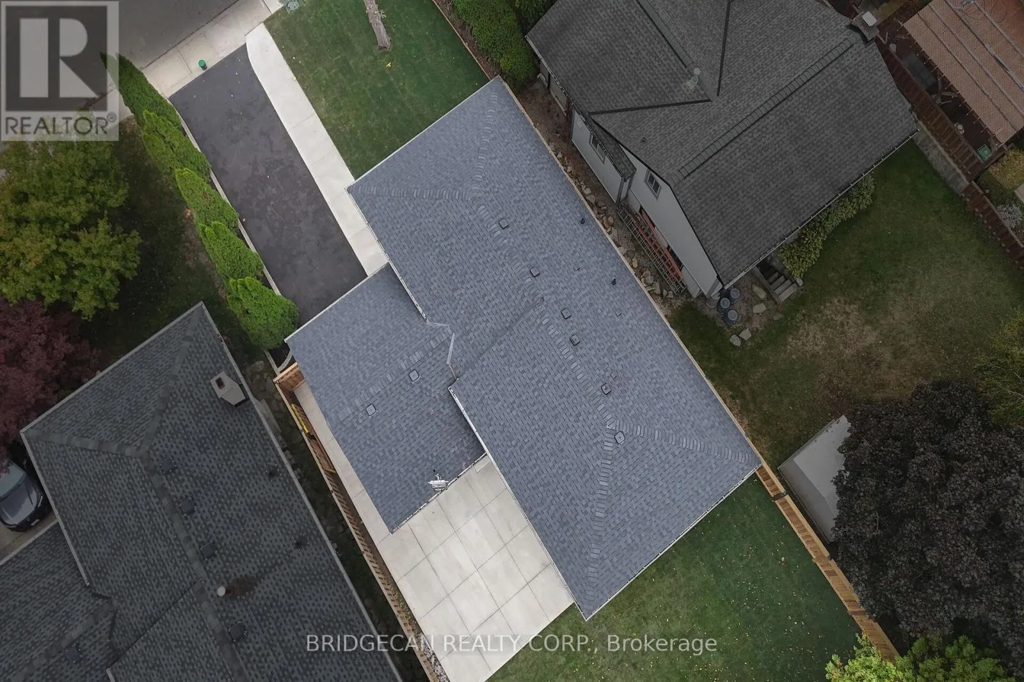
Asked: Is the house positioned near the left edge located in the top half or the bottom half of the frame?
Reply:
bottom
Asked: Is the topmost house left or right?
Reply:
right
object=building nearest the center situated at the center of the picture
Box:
[285,75,762,622]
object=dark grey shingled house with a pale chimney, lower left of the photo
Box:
[0,301,403,682]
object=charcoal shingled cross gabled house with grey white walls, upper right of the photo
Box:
[524,0,920,299]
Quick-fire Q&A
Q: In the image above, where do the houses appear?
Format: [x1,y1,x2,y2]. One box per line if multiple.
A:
[285,75,762,622]
[0,301,403,682]
[524,0,920,299]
